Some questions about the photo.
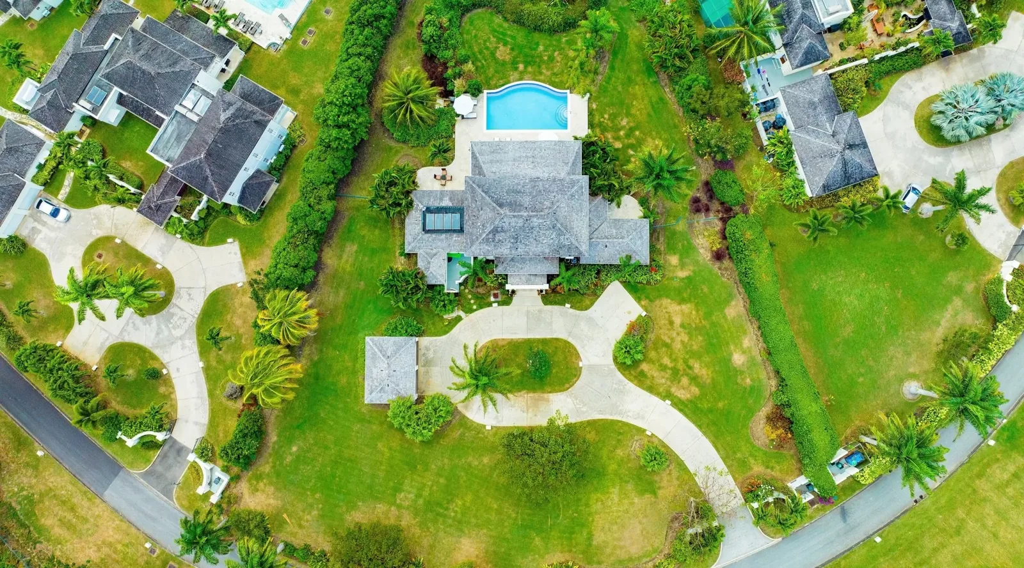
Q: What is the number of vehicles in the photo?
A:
2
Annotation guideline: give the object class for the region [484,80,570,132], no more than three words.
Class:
swimming pool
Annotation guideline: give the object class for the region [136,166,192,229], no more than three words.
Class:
building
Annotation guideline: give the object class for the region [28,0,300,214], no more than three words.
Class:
house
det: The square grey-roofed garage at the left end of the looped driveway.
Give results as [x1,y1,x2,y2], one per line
[364,336,421,404]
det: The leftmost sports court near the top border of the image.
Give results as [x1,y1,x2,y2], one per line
[698,0,733,29]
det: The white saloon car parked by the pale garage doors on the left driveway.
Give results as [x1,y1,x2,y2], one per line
[38,200,73,223]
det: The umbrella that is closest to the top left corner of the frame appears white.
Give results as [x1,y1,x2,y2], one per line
[453,95,473,115]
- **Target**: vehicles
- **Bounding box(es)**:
[897,182,924,215]
[38,200,73,223]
